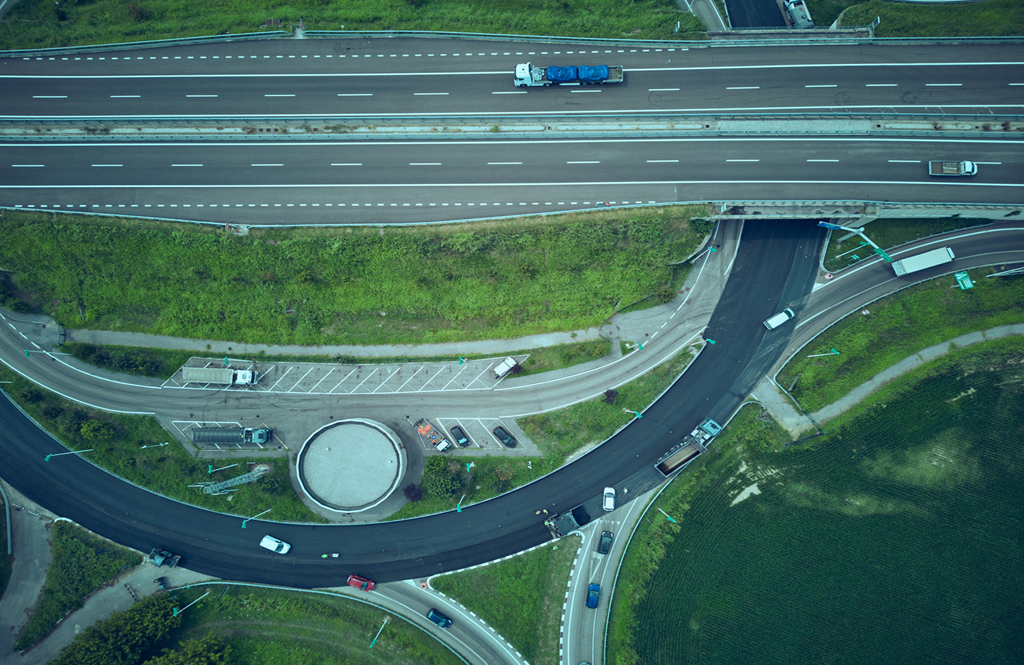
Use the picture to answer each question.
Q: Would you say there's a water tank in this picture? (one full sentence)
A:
Yes, a water tank is visible in the scene.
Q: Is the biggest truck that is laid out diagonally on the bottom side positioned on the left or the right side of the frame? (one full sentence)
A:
It is on the right.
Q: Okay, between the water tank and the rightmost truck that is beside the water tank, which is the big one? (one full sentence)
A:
Of the two, the water tank is larger and the truck is the smaller one.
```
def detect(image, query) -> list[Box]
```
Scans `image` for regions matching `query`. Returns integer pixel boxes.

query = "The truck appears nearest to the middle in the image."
[493,354,519,381]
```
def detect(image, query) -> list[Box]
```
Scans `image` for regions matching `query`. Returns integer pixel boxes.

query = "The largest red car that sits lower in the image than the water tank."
[346,573,376,592]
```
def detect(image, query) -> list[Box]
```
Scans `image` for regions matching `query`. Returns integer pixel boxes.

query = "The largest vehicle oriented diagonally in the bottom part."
[655,417,724,480]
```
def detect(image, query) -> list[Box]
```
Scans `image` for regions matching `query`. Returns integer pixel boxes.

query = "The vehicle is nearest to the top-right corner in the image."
[929,161,977,178]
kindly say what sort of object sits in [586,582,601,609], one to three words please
car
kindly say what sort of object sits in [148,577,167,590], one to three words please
vehicle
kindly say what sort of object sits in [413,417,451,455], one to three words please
truck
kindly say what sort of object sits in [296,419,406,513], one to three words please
water tank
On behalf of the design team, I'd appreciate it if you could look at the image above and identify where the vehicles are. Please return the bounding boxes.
[929,161,977,178]
[346,573,376,592]
[596,200,609,208]
[187,427,274,446]
[148,577,167,590]
[597,530,612,555]
[655,417,724,480]
[451,426,469,449]
[493,425,516,449]
[146,548,183,571]
[892,244,960,277]
[602,486,616,511]
[514,63,624,88]
[425,607,453,629]
[177,368,262,389]
[586,582,601,609]
[413,417,451,455]
[258,535,290,555]
[493,354,519,381]
[763,307,795,331]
